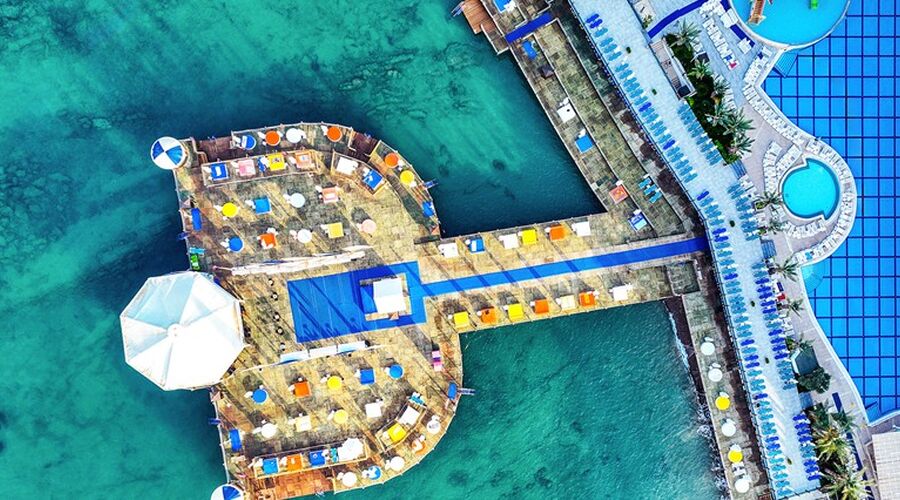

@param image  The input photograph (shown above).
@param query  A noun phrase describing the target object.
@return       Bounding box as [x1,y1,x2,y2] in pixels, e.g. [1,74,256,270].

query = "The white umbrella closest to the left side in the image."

[151,136,185,170]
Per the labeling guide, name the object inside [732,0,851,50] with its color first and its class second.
blue swimming pool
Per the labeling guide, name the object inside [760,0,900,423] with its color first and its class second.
blue swimming pool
